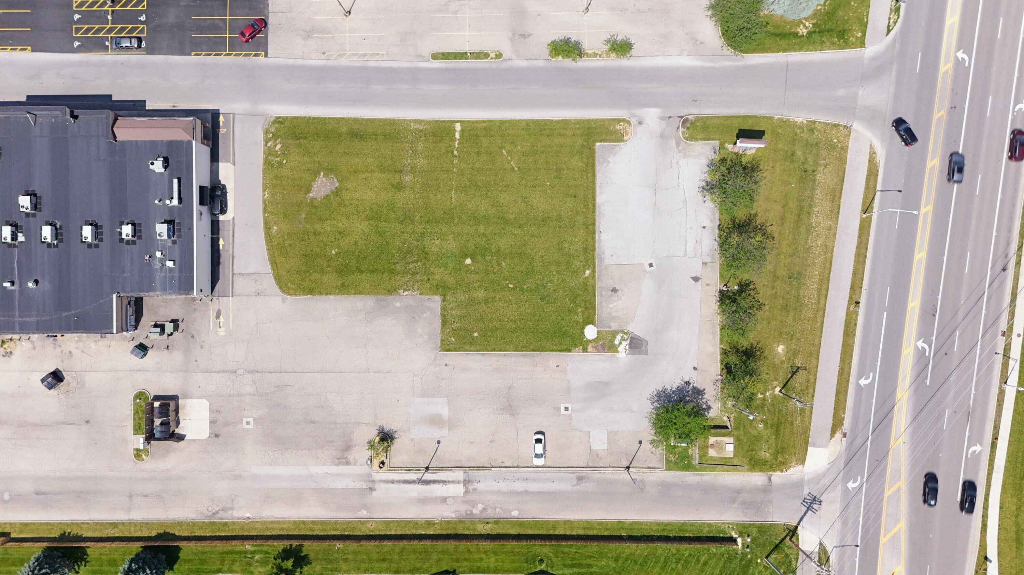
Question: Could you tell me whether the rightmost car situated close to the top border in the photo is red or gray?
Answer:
red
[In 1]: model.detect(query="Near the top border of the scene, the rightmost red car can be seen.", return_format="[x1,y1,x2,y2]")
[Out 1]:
[236,17,268,45]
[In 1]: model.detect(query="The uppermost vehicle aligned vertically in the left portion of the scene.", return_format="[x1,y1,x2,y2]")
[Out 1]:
[212,184,228,217]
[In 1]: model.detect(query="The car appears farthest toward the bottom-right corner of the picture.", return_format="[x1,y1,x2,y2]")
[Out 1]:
[958,480,977,513]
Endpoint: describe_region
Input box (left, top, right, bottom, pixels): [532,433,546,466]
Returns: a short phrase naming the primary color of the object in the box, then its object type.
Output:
white car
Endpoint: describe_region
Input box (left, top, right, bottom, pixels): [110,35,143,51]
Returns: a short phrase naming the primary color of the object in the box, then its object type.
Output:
gray car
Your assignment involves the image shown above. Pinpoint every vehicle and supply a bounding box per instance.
[212,184,228,217]
[946,151,965,185]
[958,480,977,513]
[110,35,143,51]
[921,472,939,506]
[236,17,268,45]
[1007,128,1024,162]
[891,117,917,148]
[532,433,546,466]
